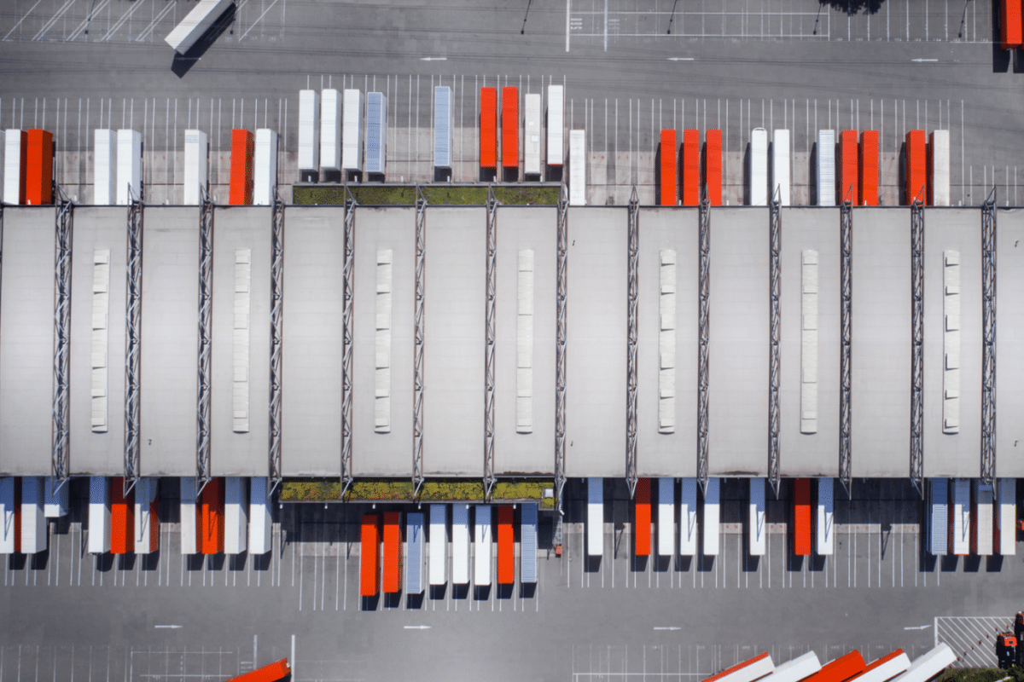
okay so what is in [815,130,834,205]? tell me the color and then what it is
white trailer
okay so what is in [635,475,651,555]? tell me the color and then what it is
red trailer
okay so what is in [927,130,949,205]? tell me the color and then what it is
white trailer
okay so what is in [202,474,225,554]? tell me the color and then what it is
red trailer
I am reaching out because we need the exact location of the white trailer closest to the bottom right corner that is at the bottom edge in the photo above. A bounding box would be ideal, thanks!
[884,642,956,682]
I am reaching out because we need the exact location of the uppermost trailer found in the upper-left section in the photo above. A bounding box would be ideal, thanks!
[164,0,235,54]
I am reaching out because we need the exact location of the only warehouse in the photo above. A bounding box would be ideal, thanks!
[0,176,1024,510]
